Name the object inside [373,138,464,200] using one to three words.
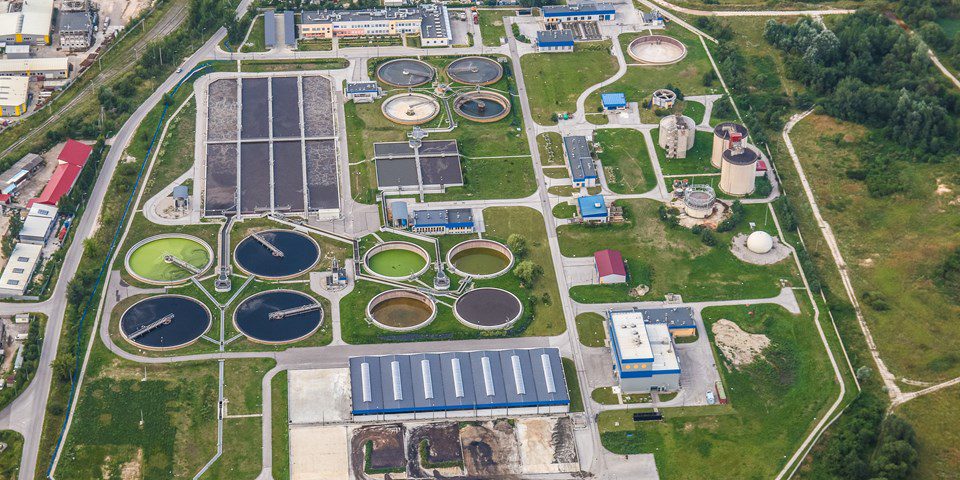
storage tank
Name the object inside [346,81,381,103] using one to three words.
house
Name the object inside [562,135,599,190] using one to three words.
building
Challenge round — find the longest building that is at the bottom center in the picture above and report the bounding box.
[350,348,570,424]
